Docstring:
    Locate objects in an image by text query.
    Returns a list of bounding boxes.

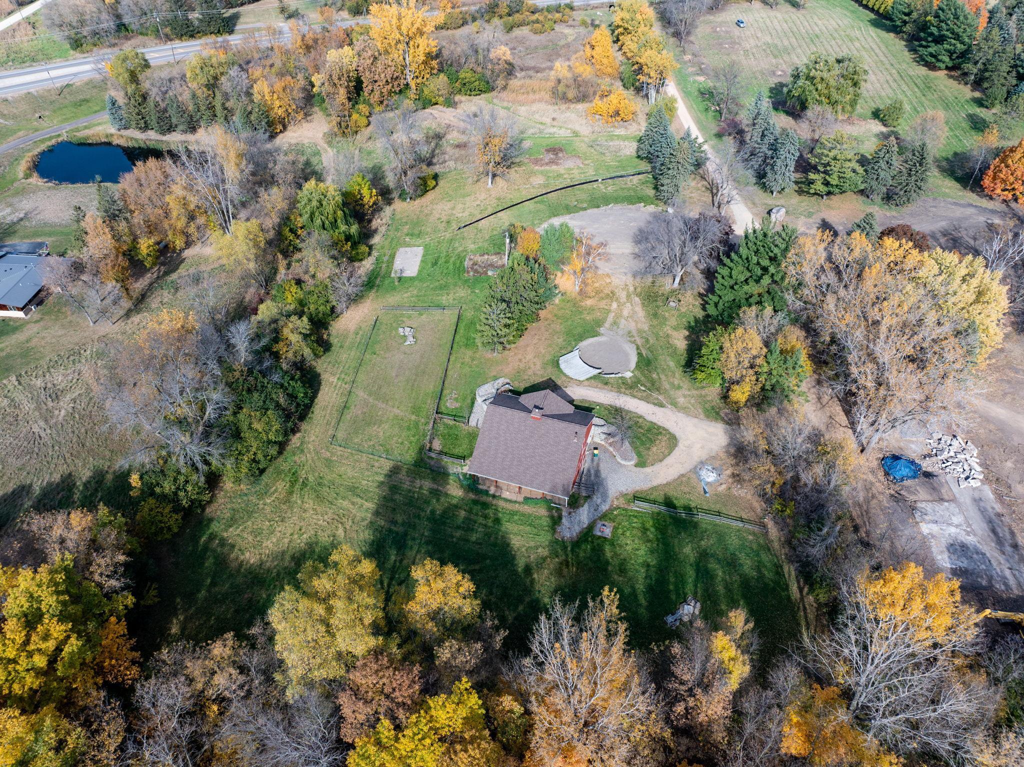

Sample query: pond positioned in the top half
[36,144,207,186]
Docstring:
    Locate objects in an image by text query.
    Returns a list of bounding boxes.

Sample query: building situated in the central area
[467,389,597,517]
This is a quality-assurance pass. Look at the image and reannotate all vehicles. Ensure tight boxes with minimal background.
[734,18,747,27]
[958,609,1024,638]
